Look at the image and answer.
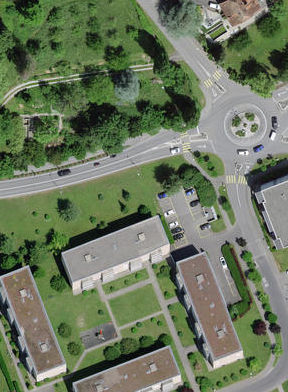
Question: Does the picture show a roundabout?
Yes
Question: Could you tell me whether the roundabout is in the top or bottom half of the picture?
top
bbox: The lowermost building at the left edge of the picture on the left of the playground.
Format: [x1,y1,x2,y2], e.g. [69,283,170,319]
[0,266,66,382]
